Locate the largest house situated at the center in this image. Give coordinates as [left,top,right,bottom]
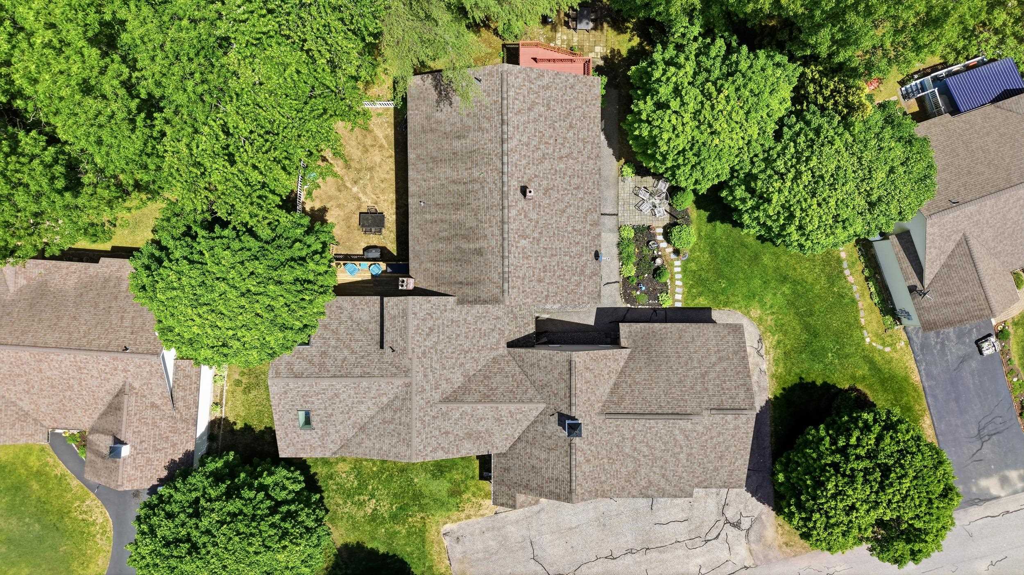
[268,64,756,510]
